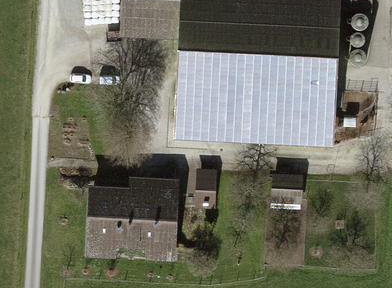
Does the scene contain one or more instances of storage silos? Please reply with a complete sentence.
Yes, a storage silo is visible in the scene.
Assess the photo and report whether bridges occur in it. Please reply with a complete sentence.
No, the photo shows no bridge.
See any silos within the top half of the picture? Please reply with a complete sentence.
Yes, a silo appears within the top half of the picture.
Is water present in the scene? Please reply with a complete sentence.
No, the picture contains no water.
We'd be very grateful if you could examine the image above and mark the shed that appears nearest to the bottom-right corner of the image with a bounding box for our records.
[270,172,304,210]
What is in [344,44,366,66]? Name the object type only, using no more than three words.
silo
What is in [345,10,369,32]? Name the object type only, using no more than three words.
silo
